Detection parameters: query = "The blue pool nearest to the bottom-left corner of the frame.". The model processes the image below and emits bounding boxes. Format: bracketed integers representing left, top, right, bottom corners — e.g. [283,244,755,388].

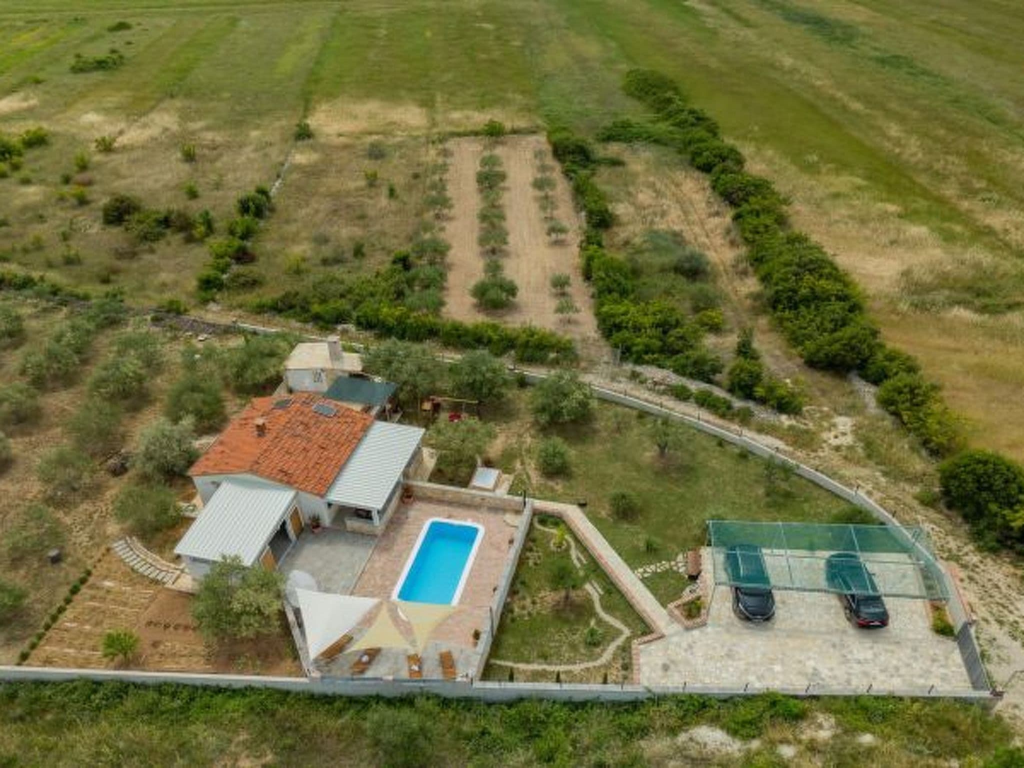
[392,517,479,609]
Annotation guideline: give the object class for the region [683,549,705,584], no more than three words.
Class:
building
